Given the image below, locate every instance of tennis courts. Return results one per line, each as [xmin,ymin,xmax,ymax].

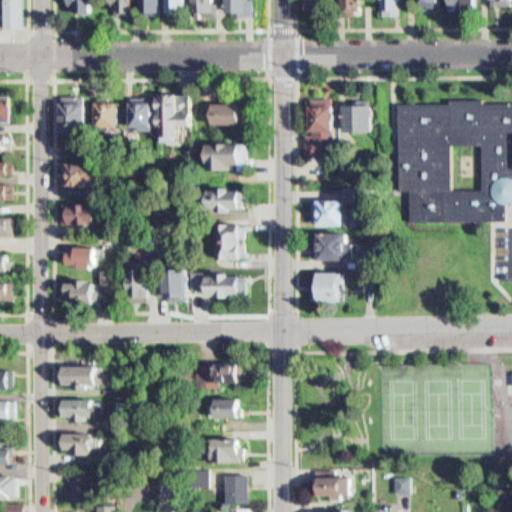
[456,364,492,453]
[382,364,422,453]
[422,364,456,453]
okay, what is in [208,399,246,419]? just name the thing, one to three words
house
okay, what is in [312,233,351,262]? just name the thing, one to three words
house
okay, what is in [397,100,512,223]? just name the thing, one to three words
building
